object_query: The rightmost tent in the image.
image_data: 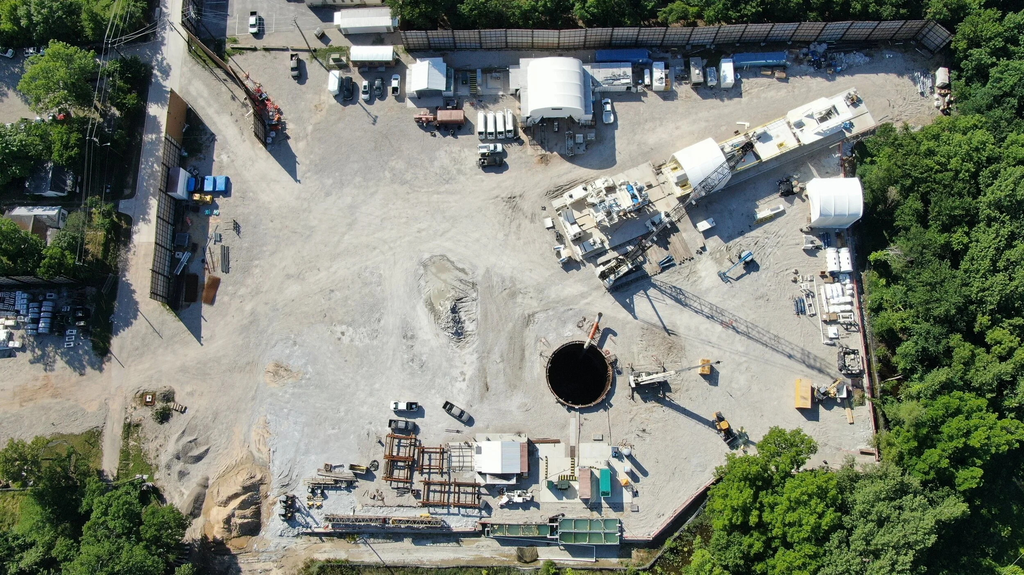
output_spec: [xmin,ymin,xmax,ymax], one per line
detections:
[801,182,864,229]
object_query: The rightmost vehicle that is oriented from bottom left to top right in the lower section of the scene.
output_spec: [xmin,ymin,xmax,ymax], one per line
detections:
[812,377,849,405]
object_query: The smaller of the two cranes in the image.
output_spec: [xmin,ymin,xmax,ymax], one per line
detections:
[625,359,722,402]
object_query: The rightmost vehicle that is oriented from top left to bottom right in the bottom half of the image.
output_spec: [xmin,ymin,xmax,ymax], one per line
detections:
[713,413,737,446]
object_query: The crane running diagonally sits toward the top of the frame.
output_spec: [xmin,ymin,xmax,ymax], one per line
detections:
[590,115,776,296]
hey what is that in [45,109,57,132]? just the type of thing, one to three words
vehicle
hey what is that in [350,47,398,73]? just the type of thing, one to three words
building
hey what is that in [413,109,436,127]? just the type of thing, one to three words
vehicle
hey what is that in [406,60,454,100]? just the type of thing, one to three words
shed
